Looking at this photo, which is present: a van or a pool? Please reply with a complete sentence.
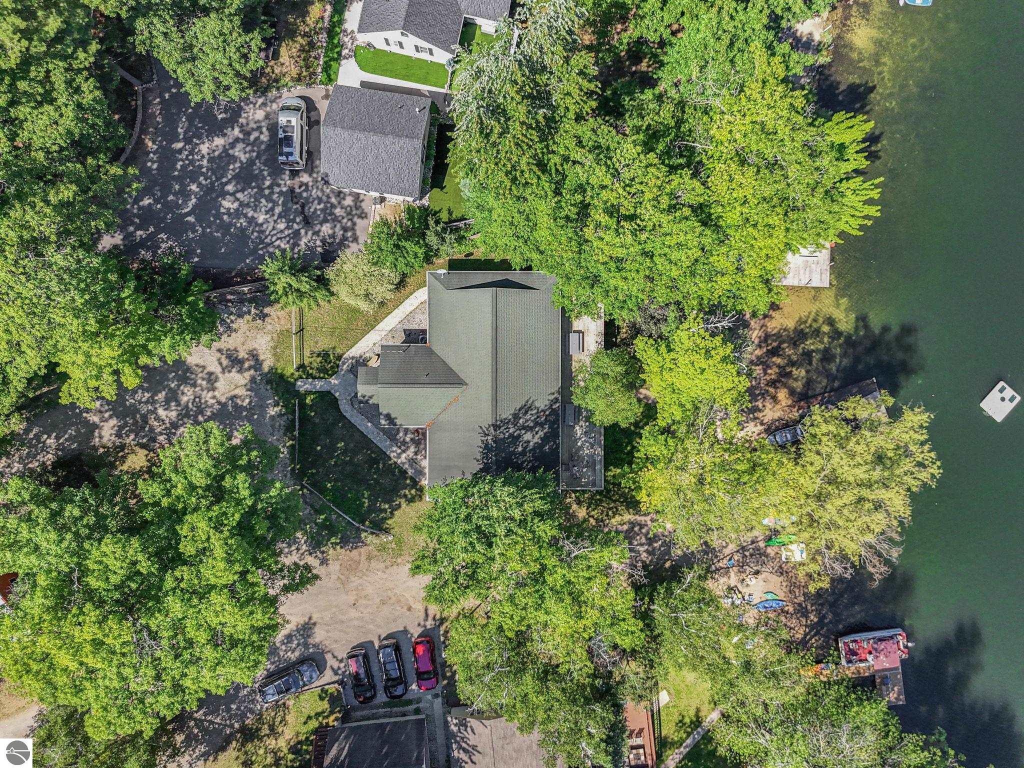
Visible in the photo is a van.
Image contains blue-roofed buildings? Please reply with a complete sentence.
No, this view has no blue-roofed building in it.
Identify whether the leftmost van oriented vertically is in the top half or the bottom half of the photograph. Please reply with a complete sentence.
Seen from above, the leftmost van oriented vertically lies in the top half of the view.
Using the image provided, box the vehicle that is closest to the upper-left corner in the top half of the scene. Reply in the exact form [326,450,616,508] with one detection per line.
[278,98,311,173]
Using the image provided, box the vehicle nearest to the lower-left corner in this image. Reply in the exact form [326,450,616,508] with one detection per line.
[254,654,327,706]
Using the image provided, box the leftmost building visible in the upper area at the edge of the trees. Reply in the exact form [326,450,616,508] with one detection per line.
[319,83,434,206]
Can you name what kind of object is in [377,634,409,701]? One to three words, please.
car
